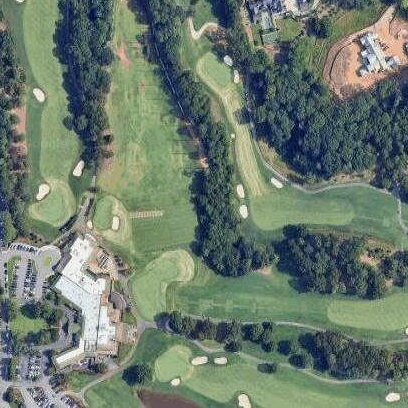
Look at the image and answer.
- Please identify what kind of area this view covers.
golf course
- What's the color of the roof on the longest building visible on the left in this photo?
white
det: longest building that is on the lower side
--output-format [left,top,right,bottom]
[52,230,119,364]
